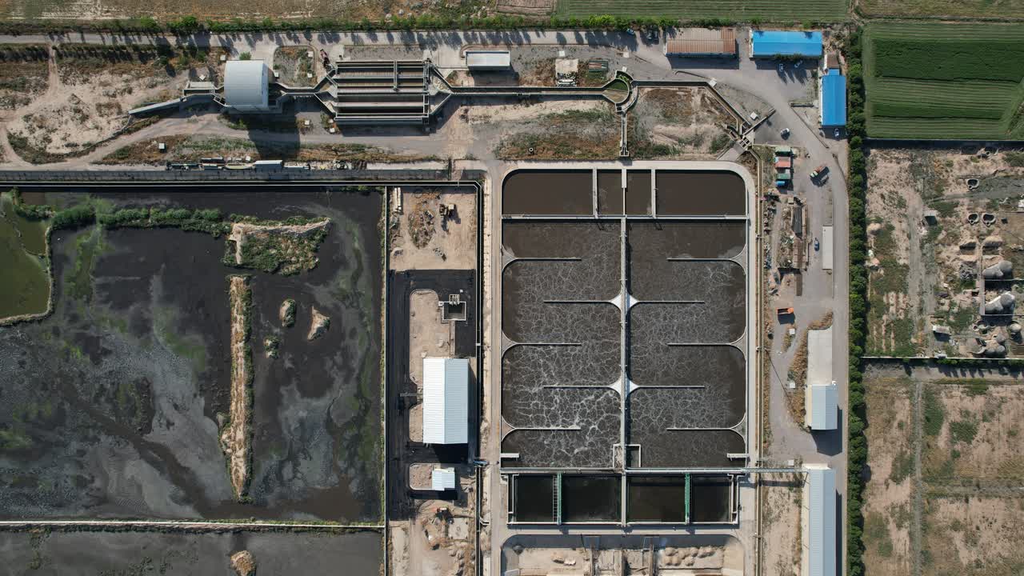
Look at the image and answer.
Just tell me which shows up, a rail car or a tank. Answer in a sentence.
This aerial view contains a tank.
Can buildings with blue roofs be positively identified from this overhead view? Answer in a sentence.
Yes, this view includes a building with a blue roof.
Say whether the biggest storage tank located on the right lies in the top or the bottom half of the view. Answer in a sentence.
You can find the biggest storage tank located on the right in the bottom half.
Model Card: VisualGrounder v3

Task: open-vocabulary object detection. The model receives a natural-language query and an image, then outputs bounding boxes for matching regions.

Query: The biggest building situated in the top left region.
[223,60,288,117]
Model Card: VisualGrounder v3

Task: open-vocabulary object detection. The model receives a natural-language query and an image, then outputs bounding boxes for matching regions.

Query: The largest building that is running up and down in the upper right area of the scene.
[820,69,846,127]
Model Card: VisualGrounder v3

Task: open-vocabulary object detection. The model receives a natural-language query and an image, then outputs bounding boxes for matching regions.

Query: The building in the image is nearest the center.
[423,357,469,445]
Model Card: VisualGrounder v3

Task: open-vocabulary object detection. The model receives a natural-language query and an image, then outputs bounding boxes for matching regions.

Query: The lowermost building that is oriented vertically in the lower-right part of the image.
[799,464,837,576]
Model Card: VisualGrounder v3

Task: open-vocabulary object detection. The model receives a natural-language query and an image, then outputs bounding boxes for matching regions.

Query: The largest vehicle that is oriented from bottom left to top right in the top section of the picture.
[808,162,829,178]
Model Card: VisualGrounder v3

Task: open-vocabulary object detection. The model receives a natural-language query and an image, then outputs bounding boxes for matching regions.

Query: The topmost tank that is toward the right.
[602,70,638,113]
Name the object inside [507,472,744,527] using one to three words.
storage tank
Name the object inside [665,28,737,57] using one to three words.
building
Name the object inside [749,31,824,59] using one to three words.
building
